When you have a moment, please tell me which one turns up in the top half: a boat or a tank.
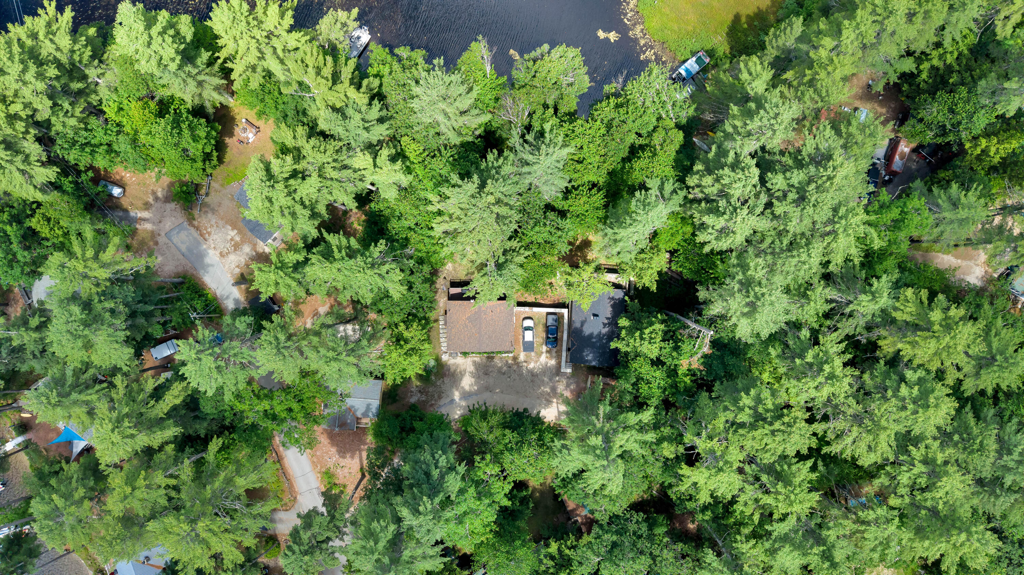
boat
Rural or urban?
rural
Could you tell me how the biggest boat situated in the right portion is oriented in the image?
at an angle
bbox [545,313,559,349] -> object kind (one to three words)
vehicle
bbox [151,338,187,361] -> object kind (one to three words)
camper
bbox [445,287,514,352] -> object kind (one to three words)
house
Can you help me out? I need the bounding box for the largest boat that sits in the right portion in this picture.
[671,48,712,87]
